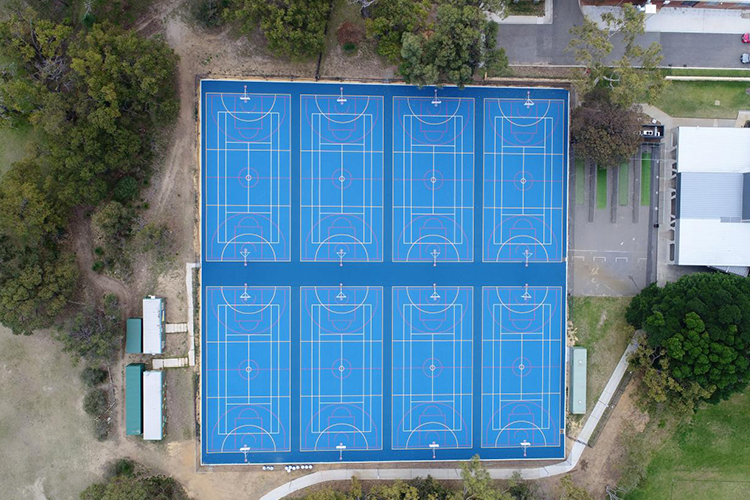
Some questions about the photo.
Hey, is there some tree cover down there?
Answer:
Yes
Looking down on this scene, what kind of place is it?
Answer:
sports ground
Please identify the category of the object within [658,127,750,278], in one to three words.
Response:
building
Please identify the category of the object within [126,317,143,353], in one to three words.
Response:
shed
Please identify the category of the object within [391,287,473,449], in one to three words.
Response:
sports court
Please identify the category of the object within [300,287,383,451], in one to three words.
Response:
sports court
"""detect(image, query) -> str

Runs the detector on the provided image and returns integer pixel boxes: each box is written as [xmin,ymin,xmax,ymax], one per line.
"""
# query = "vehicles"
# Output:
[740,52,750,64]
[740,34,750,45]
